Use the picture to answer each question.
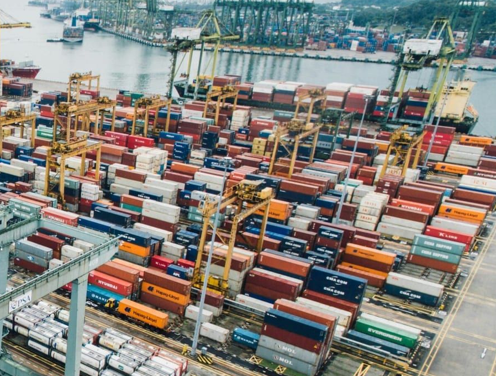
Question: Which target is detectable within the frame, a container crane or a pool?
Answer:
container crane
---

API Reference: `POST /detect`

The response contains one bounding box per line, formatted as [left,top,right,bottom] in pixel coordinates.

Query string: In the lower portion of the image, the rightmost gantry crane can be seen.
[192,190,280,301]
